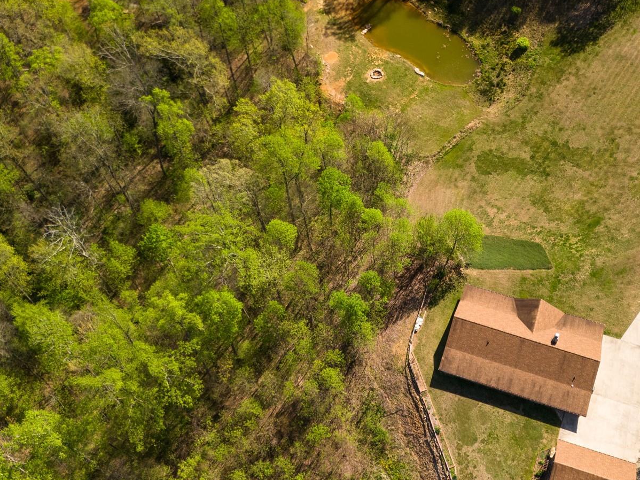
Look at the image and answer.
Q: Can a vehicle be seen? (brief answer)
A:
No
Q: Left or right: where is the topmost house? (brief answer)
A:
right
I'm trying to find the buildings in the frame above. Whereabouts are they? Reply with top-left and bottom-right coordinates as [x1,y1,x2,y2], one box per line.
[438,284,604,418]
[549,439,637,480]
